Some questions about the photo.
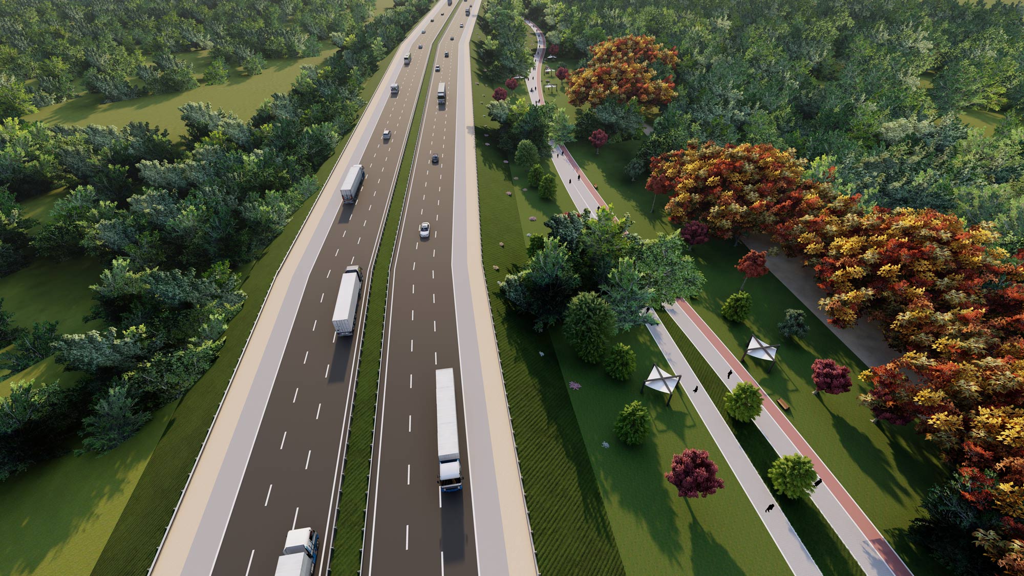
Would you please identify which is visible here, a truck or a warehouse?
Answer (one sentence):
It is a truck that can be seen here.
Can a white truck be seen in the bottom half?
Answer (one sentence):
Yes, in the bottom half there is a white truck.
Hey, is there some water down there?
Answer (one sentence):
No, the scene doesn't show any water.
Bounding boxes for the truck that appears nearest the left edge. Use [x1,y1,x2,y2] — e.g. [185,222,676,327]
[274,524,319,576]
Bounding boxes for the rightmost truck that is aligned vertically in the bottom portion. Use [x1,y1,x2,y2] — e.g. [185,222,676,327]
[434,366,462,491]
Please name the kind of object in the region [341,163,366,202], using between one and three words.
truck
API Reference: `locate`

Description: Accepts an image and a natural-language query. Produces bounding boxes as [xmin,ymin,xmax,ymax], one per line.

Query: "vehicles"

[383,130,391,137]
[341,163,366,202]
[434,366,462,491]
[404,52,411,63]
[437,82,446,103]
[274,524,319,576]
[391,85,398,93]
[420,223,430,235]
[331,264,362,334]
[465,6,470,14]
[432,152,439,161]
